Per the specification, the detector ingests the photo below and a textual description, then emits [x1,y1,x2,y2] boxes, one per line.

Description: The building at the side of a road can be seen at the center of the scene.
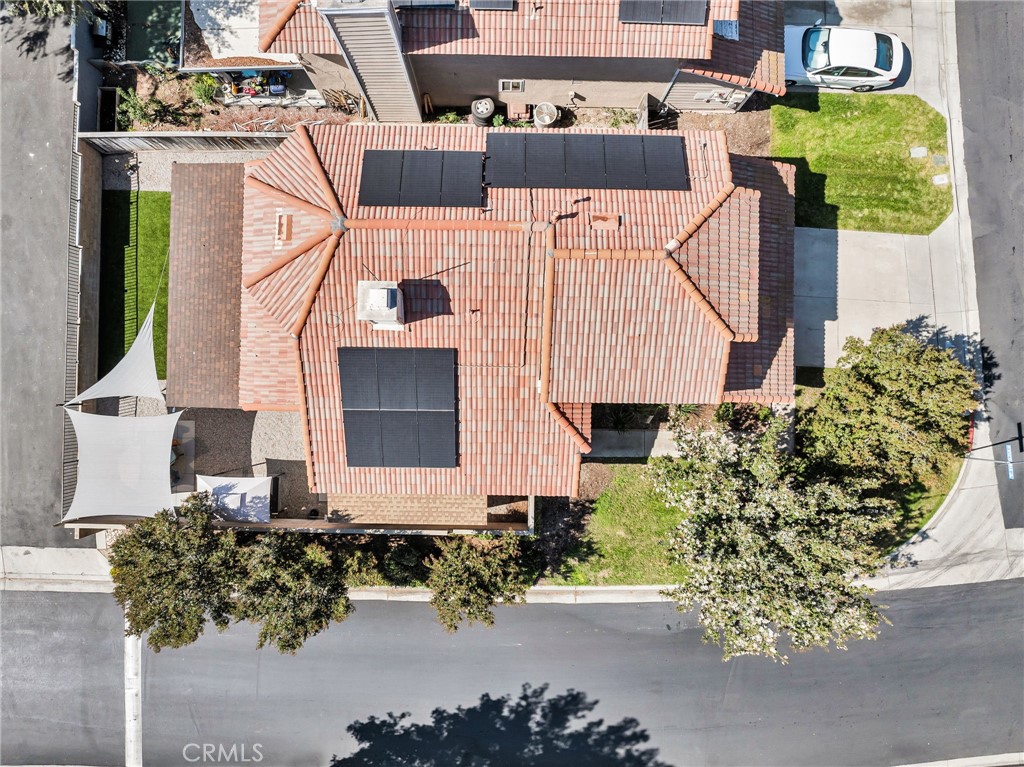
[167,124,800,526]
